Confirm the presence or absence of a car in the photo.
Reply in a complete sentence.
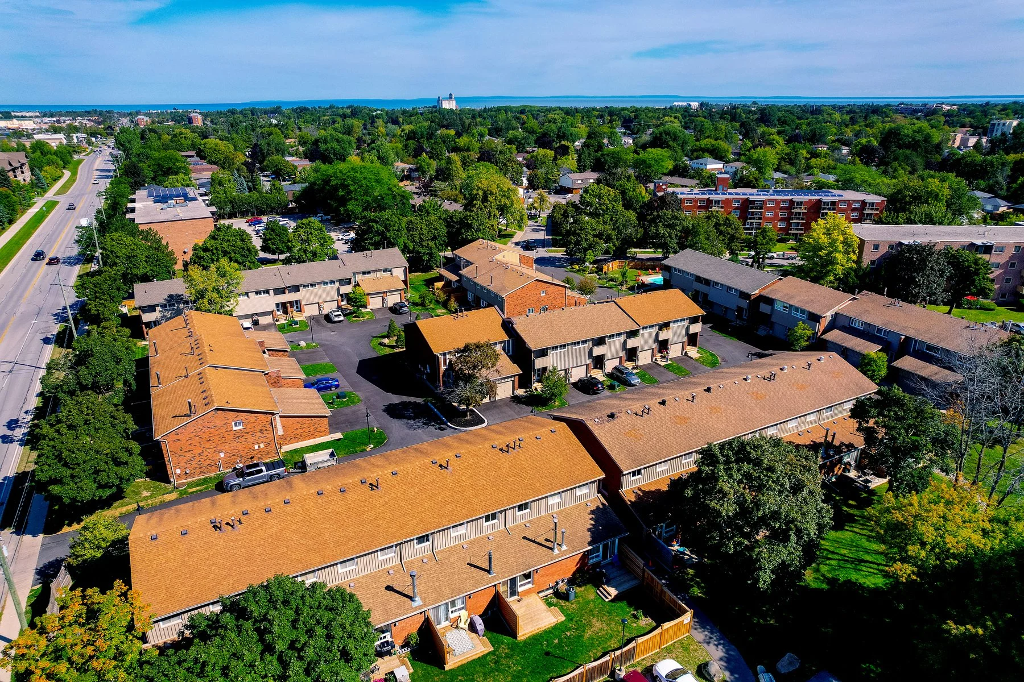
Yes, a car can be made out from above.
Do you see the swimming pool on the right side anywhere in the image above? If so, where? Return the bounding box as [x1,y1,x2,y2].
[638,273,663,289]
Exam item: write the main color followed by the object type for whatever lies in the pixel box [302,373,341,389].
blue car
